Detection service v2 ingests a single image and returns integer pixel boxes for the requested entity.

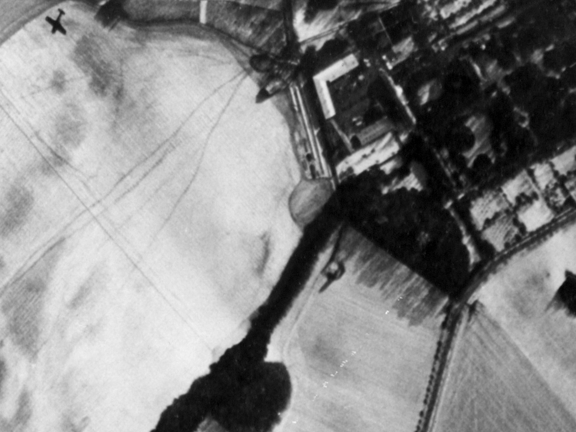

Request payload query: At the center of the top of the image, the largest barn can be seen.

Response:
[313,52,360,118]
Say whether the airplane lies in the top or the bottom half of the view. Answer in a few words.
top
